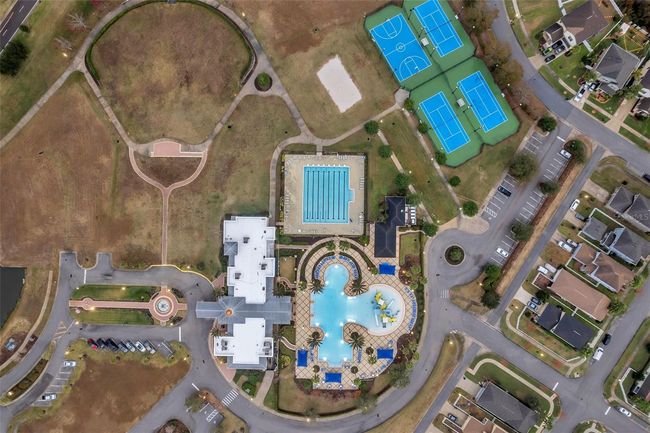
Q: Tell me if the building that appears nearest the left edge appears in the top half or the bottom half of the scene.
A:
bottom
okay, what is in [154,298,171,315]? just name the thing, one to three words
fountain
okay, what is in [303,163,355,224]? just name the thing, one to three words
swimming pool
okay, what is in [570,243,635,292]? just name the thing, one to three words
house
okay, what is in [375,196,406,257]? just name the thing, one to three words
building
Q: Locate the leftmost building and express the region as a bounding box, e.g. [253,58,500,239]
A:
[195,216,291,370]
